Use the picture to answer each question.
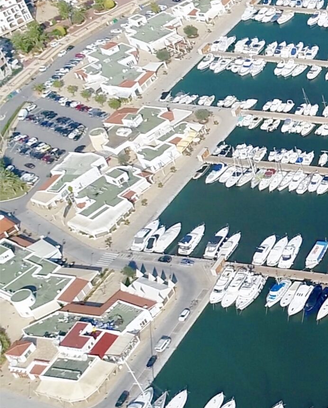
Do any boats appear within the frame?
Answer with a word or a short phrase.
Yes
